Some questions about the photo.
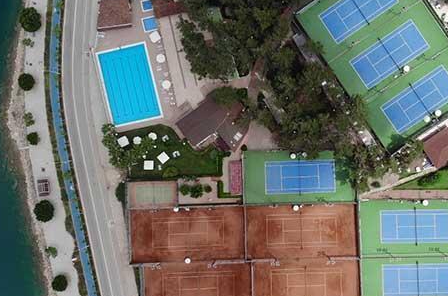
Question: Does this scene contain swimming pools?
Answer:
Yes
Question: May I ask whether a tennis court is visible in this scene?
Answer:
Yes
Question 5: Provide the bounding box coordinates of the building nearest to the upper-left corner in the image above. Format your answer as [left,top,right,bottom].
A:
[97,0,135,29]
